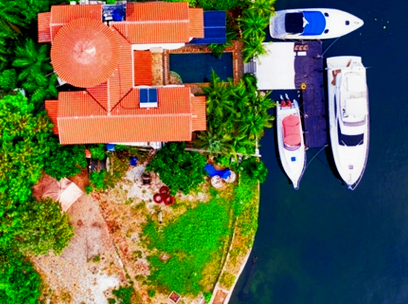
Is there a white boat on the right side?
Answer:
Yes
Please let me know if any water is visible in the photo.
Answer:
Yes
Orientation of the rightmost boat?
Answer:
from top to bottom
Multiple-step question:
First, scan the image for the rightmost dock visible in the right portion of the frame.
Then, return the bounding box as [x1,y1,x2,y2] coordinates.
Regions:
[264,40,328,147]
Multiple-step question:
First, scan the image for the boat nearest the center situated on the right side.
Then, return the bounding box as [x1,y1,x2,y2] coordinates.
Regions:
[277,90,306,193]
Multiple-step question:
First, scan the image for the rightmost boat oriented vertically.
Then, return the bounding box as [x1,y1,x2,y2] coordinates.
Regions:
[324,50,373,190]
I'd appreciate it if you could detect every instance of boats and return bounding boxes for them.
[324,50,373,190]
[277,90,306,193]
[267,7,366,39]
